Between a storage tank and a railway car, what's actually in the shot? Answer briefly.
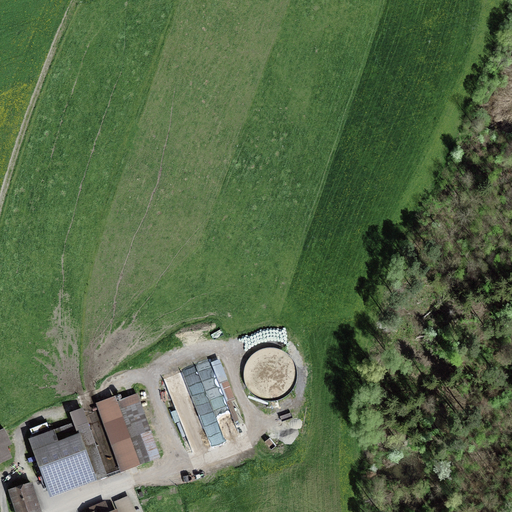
storage tank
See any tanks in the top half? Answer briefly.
No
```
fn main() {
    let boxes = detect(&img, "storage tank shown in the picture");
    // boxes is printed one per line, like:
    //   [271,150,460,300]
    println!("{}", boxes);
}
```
[242,346,296,400]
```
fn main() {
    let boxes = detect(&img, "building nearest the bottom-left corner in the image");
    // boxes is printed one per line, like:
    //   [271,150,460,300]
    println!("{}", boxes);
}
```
[8,481,42,512]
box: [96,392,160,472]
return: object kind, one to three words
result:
barn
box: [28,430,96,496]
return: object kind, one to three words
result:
barn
